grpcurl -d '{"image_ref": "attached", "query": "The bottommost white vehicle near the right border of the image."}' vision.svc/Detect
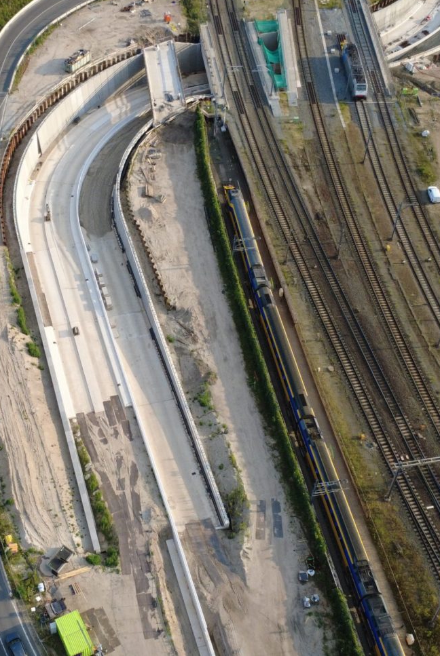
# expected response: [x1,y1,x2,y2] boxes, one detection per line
[427,184,440,202]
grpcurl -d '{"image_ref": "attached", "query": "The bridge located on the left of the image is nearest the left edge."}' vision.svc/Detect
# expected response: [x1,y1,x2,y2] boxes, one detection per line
[143,39,185,128]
